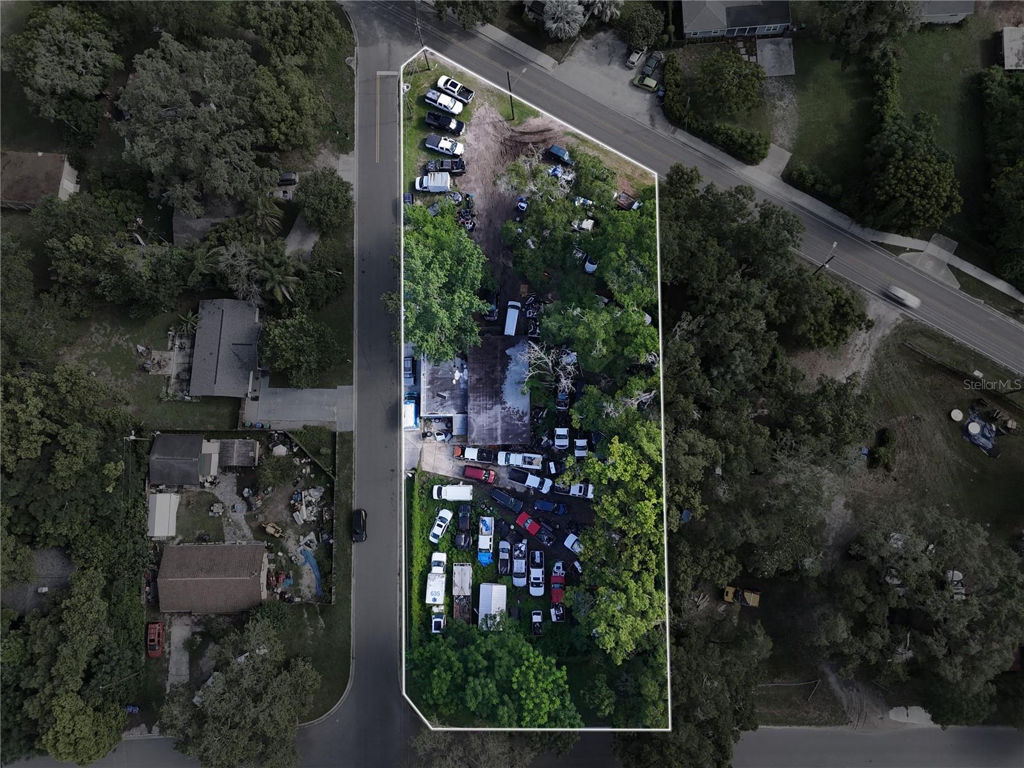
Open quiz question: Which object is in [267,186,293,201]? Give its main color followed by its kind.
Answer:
gray car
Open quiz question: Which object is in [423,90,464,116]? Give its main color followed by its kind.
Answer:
white truck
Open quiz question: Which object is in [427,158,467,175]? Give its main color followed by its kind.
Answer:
black vehicle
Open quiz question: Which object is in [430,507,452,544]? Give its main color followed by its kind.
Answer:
white car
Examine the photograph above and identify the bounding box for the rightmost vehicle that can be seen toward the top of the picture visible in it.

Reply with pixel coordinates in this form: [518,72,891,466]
[883,284,919,309]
